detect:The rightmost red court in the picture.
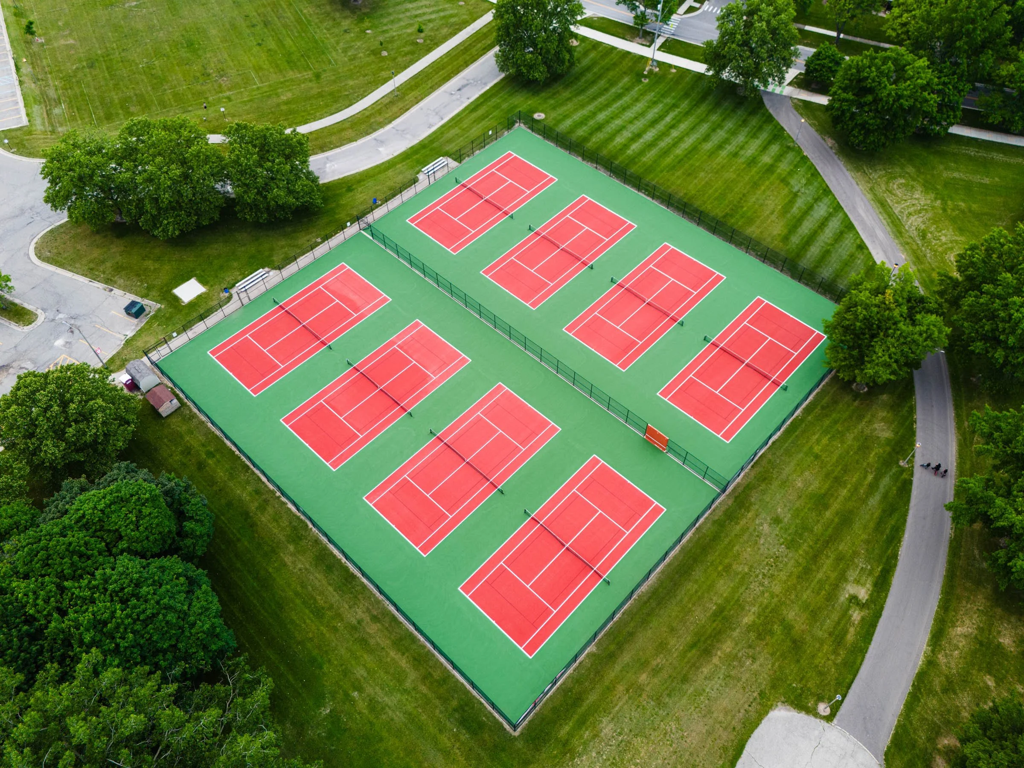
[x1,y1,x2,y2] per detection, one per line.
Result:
[658,297,825,442]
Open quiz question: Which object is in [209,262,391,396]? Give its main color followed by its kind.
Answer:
red tennis court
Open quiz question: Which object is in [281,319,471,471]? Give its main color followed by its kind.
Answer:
red tennis court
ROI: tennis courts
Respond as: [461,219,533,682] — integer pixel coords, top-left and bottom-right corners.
[658,297,825,442]
[209,262,391,396]
[564,243,726,371]
[406,151,558,254]
[480,194,637,309]
[363,382,562,557]
[458,455,666,657]
[281,319,471,471]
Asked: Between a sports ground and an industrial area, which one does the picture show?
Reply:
sports ground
